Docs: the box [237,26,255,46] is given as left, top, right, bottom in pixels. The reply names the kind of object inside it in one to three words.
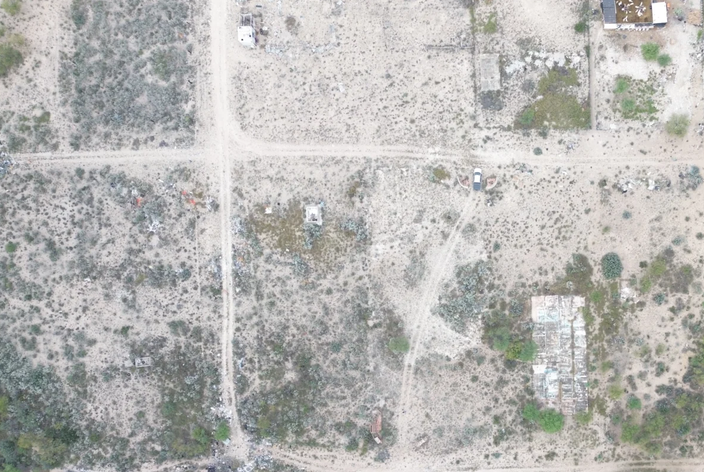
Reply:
shed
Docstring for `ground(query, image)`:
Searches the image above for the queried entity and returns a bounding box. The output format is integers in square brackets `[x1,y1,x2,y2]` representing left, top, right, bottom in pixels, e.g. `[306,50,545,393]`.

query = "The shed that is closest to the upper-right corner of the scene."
[650,2,668,26]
